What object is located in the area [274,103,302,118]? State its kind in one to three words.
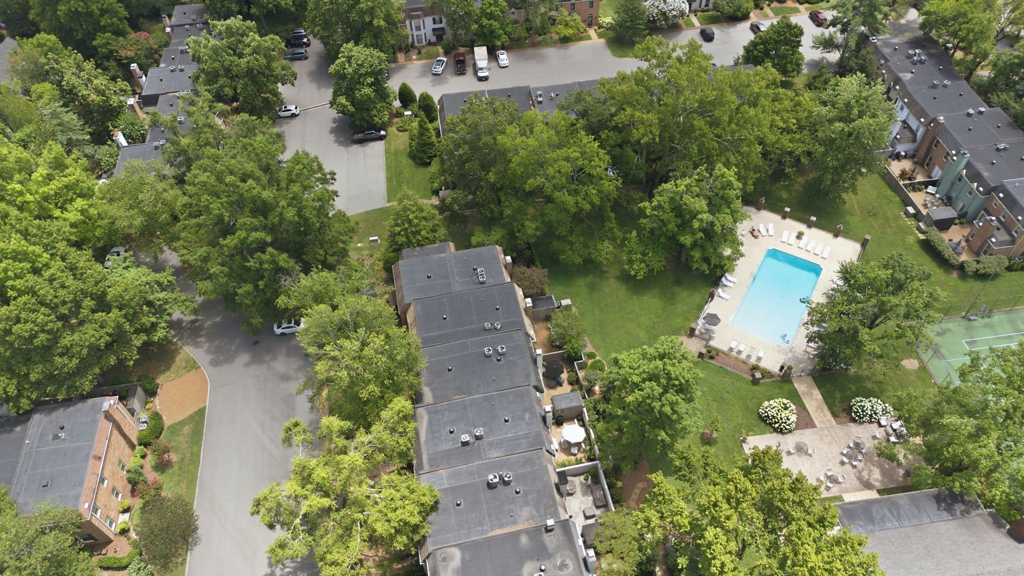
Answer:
car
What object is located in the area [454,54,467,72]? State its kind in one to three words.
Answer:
vehicle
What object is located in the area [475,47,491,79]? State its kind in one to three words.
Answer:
vehicle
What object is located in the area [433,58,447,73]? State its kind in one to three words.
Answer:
car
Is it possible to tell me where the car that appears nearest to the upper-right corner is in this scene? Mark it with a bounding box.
[808,12,829,24]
